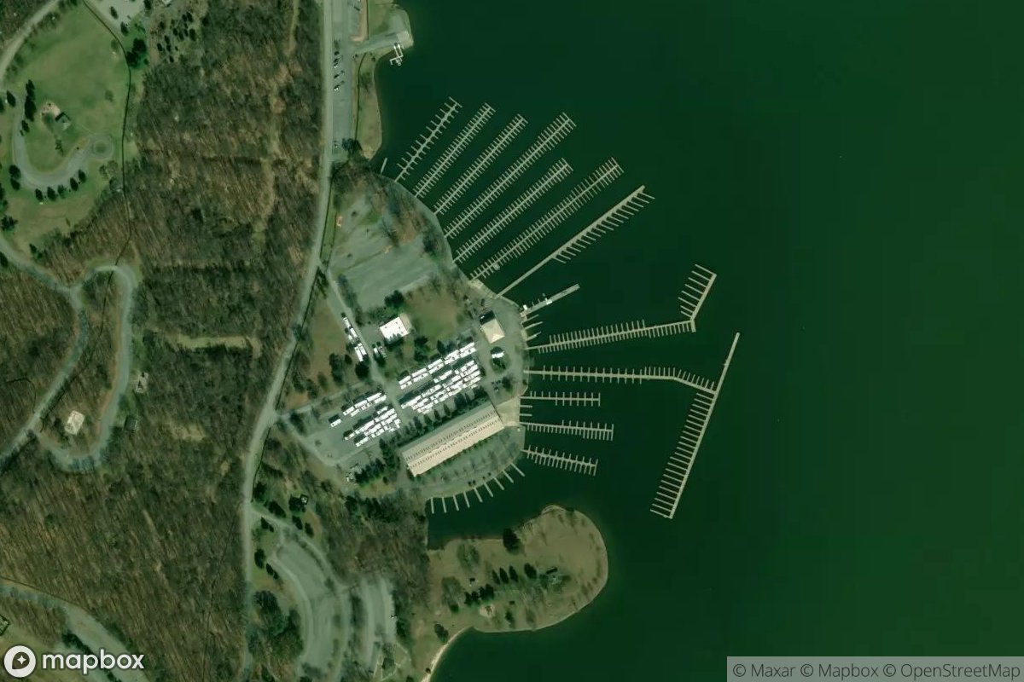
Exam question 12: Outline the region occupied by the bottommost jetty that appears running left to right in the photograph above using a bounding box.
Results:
[521,445,598,476]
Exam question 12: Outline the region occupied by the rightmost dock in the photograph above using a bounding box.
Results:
[650,333,739,518]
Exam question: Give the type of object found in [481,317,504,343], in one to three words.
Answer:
building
